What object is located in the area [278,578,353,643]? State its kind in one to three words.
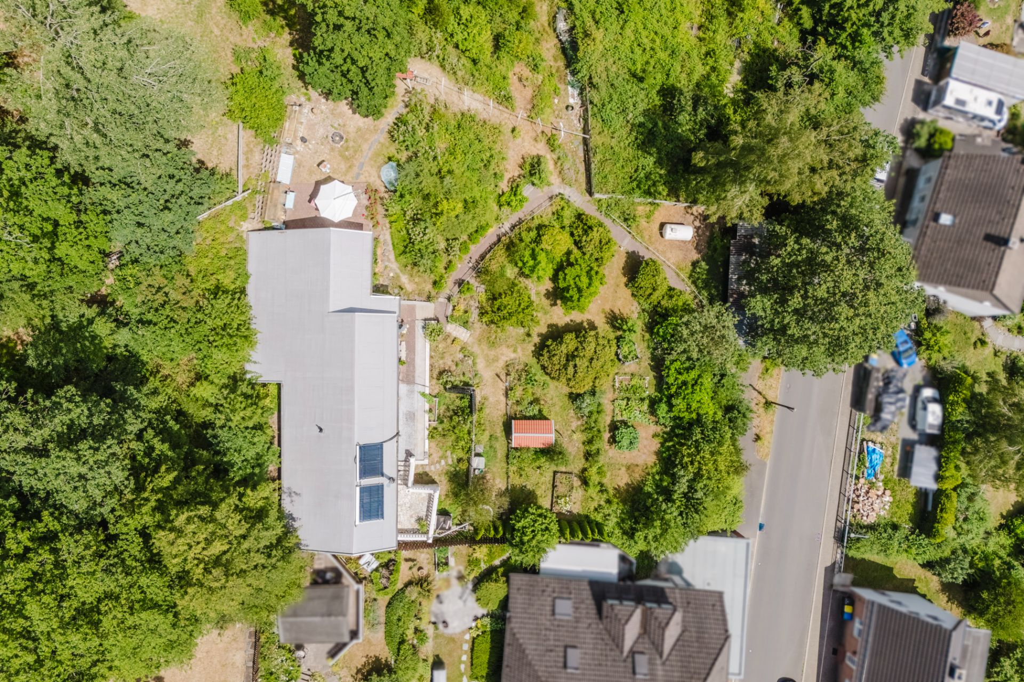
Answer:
shed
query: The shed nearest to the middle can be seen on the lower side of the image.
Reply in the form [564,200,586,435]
[512,418,555,449]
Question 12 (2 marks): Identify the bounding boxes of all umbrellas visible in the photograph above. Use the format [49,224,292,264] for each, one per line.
[317,181,375,223]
